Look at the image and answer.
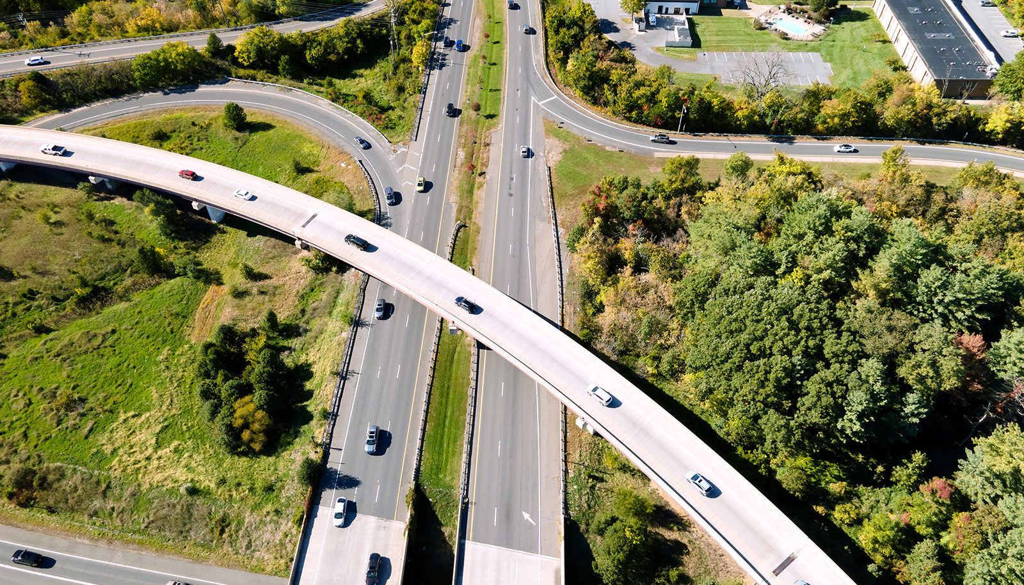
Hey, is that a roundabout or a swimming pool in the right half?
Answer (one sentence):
There is a swimming pool in the right half.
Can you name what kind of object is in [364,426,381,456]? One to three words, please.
car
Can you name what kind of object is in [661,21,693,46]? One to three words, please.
shed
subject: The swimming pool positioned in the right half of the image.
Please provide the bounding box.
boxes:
[766,7,827,40]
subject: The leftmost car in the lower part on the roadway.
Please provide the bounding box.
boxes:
[10,550,44,568]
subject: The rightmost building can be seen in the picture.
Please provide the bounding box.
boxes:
[868,0,997,99]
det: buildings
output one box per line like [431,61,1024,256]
[644,0,702,13]
[661,21,693,46]
[868,0,997,99]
